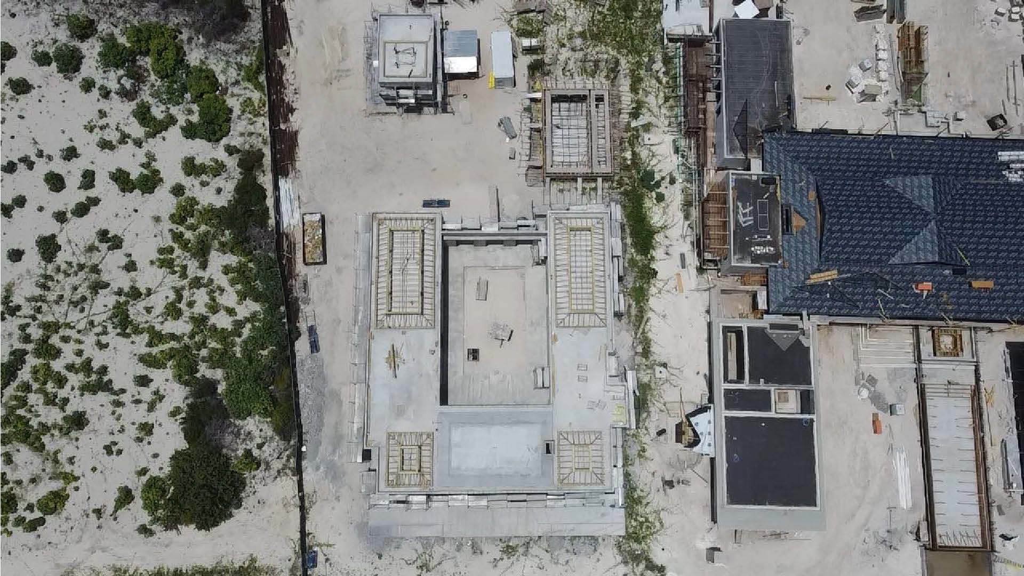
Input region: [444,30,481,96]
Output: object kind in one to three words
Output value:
shed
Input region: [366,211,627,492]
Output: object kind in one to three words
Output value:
building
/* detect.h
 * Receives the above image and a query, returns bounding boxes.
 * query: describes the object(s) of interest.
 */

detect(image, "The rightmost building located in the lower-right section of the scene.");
[707,323,826,529]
